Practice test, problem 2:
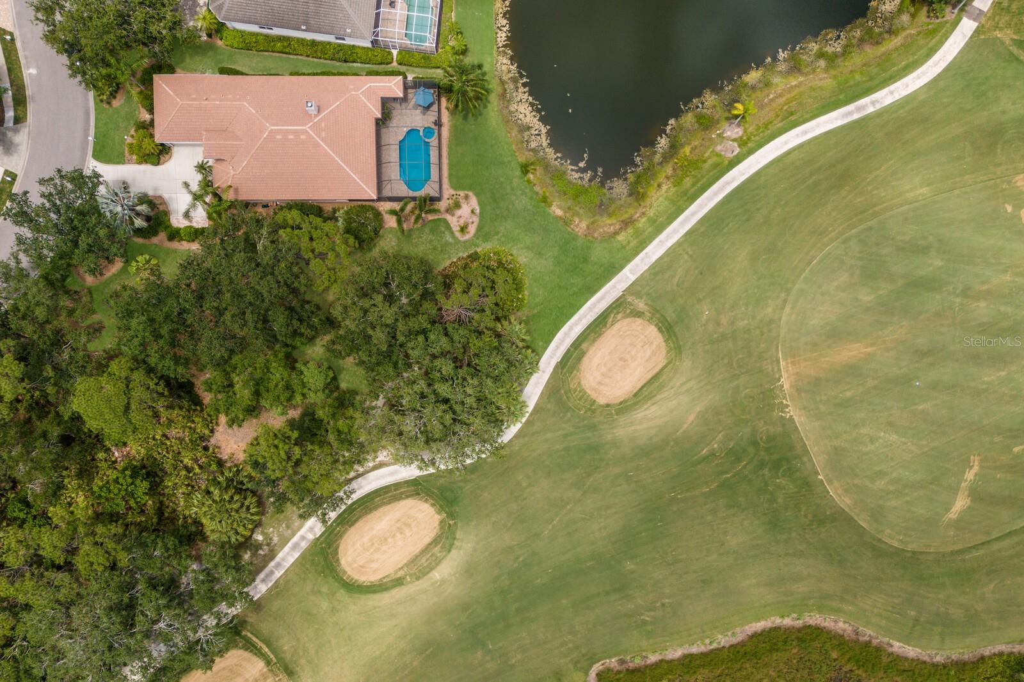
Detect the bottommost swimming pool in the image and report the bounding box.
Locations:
[396,125,437,194]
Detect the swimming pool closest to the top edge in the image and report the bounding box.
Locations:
[403,0,435,44]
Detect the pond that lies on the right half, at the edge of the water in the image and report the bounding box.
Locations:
[496,0,884,189]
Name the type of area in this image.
golf course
